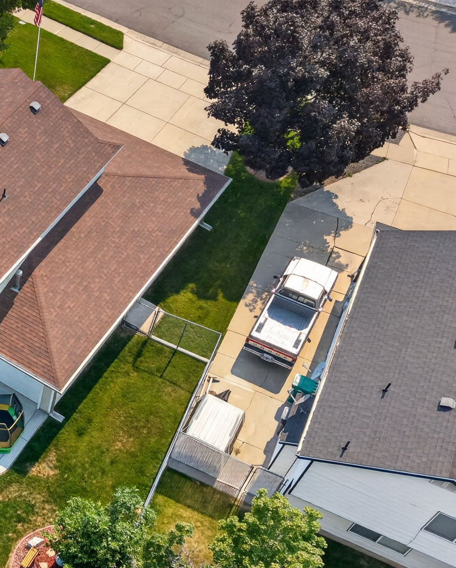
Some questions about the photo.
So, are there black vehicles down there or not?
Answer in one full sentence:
No, there's no black vehicle here.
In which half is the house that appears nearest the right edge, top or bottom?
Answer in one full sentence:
The bottom half of the photo is where the house that appears nearest the right edge is.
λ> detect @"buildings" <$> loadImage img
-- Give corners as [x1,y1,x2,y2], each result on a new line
[265,232,456,568]
[0,69,235,418]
